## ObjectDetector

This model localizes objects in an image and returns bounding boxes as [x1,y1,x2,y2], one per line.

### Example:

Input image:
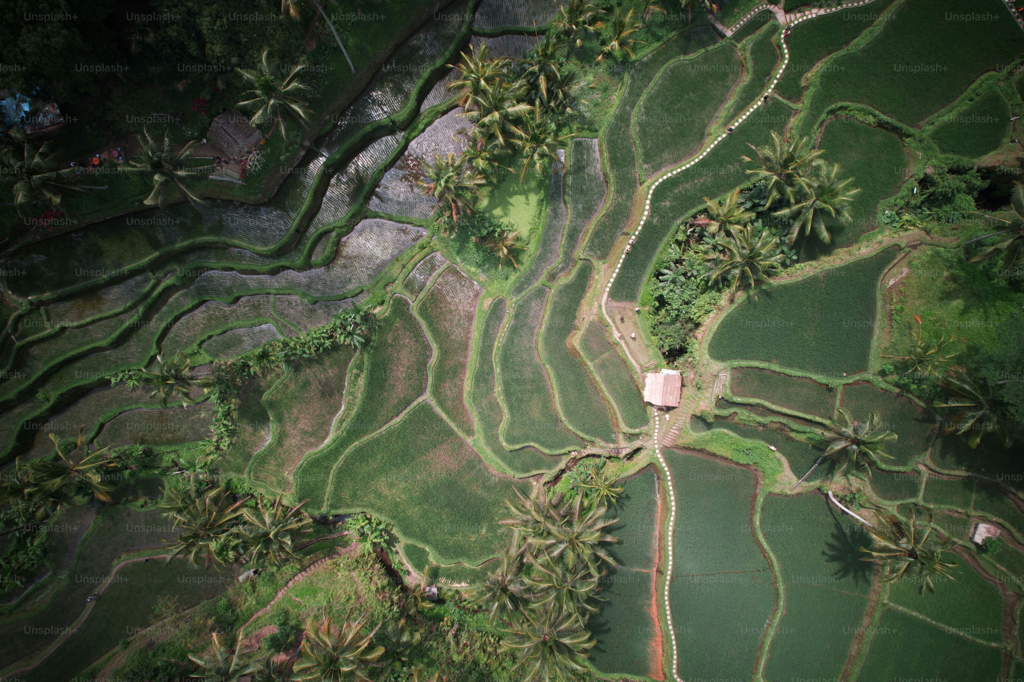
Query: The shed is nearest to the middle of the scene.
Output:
[642,371,682,409]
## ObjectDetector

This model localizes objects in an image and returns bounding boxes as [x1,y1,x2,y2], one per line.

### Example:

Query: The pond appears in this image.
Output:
[481,167,545,243]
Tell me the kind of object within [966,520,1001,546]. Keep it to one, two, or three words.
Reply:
shed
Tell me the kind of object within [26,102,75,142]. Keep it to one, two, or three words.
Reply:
shed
